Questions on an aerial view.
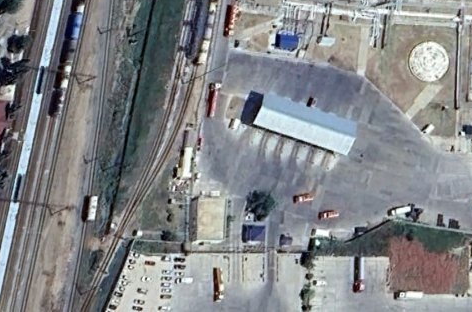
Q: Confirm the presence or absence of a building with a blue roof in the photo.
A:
Yes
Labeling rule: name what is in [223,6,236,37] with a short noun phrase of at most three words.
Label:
vehicle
